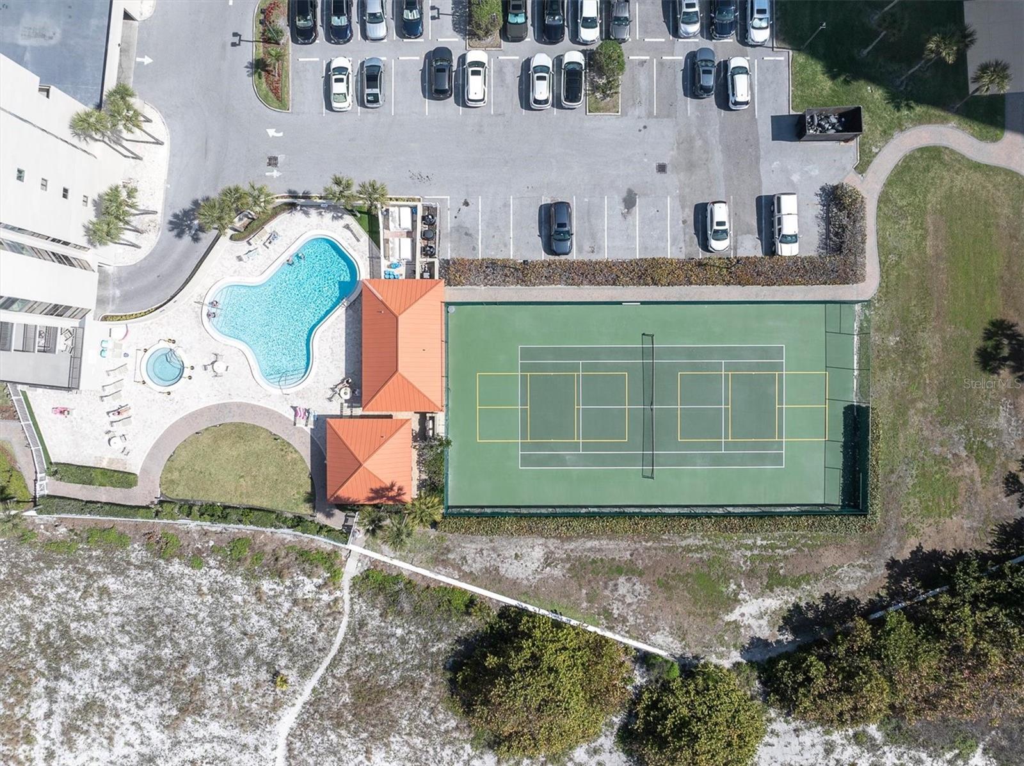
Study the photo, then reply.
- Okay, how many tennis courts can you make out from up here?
1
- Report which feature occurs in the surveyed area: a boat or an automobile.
automobile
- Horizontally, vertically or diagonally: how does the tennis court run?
horizontally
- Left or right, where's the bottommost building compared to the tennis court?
to the left of it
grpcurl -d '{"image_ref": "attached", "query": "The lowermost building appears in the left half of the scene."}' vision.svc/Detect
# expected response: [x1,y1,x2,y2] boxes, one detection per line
[326,418,415,504]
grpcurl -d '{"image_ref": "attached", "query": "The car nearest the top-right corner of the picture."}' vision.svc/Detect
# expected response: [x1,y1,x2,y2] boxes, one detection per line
[747,0,773,48]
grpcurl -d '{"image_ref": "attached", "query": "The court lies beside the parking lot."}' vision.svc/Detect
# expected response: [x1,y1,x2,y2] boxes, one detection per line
[446,305,855,507]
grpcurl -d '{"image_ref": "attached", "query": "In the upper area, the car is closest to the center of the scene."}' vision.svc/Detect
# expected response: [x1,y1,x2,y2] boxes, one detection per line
[549,201,574,256]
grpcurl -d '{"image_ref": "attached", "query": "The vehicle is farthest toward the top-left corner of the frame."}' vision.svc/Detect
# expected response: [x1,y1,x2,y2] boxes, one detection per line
[292,0,319,46]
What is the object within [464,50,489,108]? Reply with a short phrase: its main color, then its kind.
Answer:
white car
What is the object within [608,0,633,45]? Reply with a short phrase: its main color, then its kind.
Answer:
gray car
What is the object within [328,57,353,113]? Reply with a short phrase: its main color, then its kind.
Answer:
white car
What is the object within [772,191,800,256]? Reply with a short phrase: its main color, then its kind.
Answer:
white truck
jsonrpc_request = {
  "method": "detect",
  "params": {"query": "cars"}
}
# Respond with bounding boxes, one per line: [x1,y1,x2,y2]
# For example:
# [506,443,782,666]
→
[326,0,352,46]
[711,0,738,42]
[705,201,732,254]
[360,57,385,109]
[504,0,529,45]
[400,0,425,40]
[362,0,387,42]
[677,0,702,38]
[561,50,587,109]
[542,0,567,46]
[608,0,633,45]
[464,50,489,108]
[292,0,319,46]
[529,53,555,111]
[692,47,719,100]
[328,57,353,113]
[726,57,753,112]
[549,201,574,256]
[576,0,601,46]
[747,0,773,48]
[429,47,455,102]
